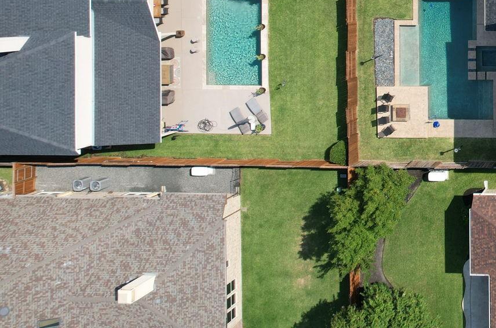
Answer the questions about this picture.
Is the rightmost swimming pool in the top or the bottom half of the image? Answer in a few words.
top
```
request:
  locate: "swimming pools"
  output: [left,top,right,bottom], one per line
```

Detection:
[400,0,496,119]
[203,0,269,89]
